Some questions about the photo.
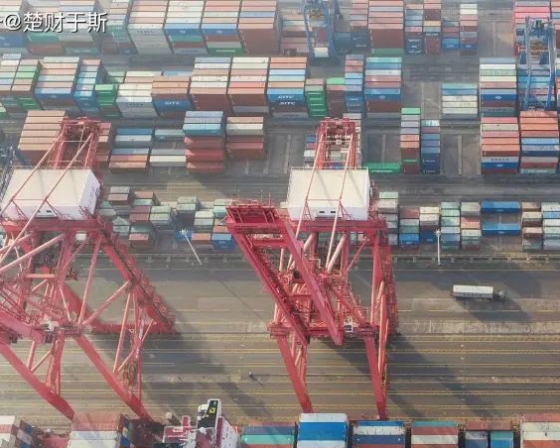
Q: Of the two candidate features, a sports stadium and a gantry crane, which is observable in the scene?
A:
gantry crane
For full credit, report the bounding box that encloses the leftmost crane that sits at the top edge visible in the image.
[296,0,338,63]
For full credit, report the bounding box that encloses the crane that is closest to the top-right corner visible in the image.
[517,6,558,86]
